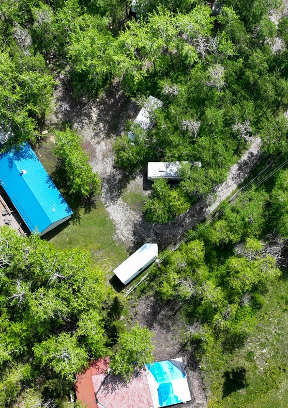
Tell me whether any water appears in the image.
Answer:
No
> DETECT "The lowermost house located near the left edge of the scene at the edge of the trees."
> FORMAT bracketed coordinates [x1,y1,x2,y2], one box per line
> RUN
[0,143,72,235]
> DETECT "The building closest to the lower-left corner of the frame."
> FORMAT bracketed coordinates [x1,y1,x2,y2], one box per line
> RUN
[76,356,154,408]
